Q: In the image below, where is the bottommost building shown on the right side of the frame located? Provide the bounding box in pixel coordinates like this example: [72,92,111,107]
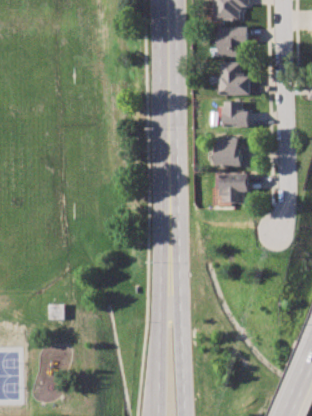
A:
[216,172,248,206]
